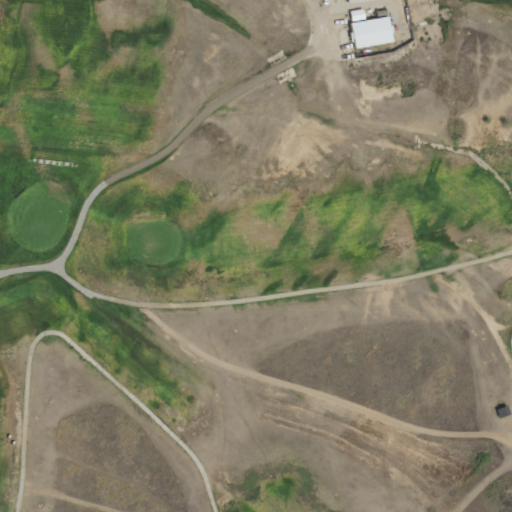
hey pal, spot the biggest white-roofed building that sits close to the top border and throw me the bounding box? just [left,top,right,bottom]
[351,15,396,48]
